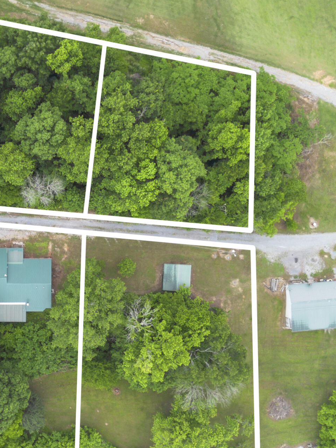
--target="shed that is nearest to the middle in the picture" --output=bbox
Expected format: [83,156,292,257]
[162,263,192,291]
